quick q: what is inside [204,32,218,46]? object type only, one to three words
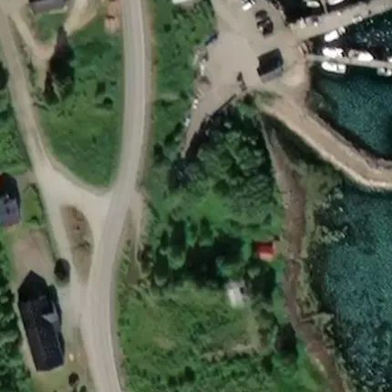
vehicle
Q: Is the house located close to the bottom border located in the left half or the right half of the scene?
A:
left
